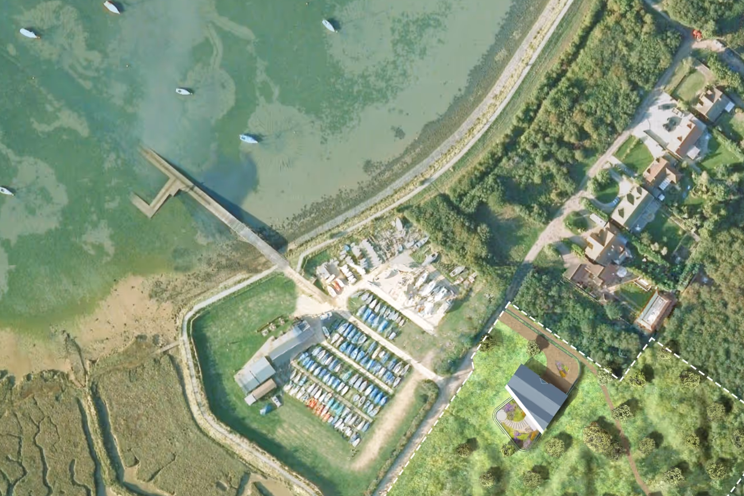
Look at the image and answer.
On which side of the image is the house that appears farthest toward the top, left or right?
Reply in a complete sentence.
The house that appears farthest toward the top sits on the right side.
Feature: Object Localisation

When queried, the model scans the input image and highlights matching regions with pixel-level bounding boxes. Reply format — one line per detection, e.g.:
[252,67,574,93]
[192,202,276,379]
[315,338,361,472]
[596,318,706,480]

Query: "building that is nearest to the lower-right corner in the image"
[636,292,672,332]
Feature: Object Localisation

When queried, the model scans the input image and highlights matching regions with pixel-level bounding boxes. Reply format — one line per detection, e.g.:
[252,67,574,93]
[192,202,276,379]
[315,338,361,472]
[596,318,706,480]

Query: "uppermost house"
[698,90,734,122]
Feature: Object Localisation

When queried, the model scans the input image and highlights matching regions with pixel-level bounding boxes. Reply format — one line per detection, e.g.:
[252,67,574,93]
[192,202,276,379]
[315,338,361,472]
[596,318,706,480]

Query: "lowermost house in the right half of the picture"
[505,365,569,435]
